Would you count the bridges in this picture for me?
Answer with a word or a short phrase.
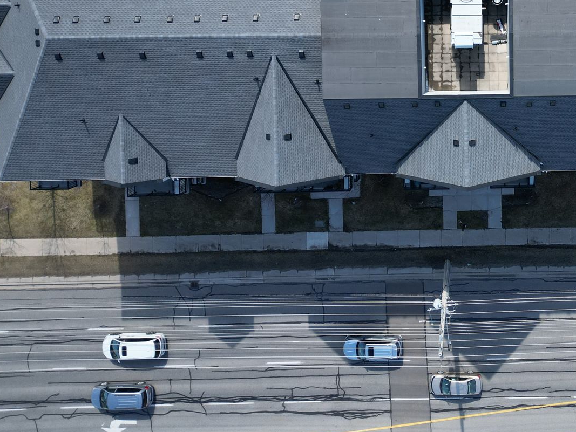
0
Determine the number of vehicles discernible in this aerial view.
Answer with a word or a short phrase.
4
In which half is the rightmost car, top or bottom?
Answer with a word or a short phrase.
bottom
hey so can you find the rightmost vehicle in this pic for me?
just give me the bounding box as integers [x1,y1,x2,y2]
[430,370,483,399]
